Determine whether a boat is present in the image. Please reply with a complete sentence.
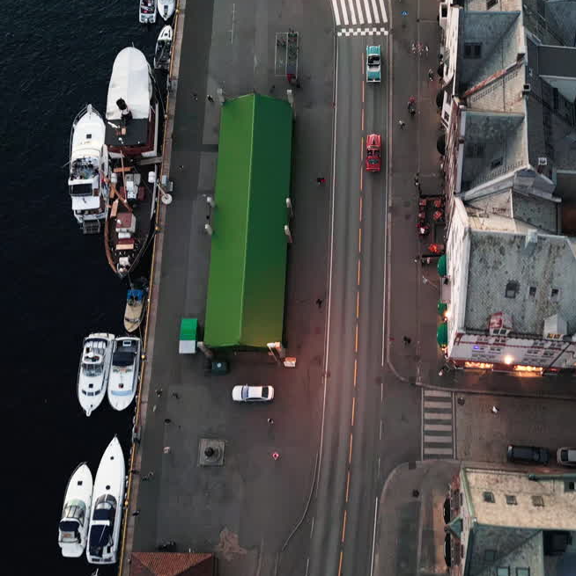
Yes, a boat can be made out from above.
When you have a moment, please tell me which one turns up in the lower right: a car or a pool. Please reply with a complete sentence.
Looking in the lower right, you will find a car.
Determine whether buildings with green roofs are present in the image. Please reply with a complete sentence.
Yes, there's a building with a green roof here.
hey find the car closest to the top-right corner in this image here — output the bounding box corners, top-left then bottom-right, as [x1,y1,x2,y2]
[365,46,381,86]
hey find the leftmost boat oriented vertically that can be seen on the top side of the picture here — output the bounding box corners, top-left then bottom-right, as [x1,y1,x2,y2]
[64,100,109,235]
